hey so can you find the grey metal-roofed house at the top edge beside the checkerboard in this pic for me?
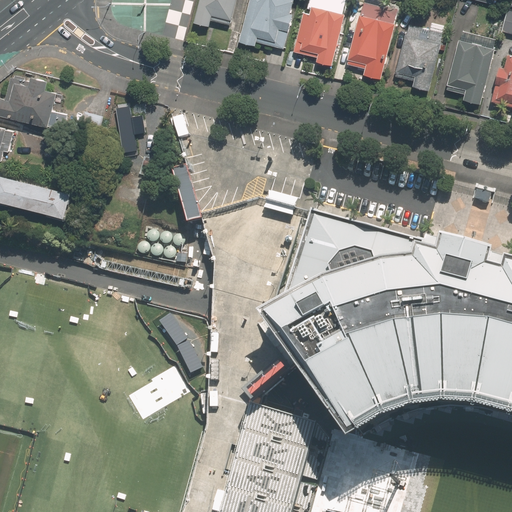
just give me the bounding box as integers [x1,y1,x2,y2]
[193,0,237,29]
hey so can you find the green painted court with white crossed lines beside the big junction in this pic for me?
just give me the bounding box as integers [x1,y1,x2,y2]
[112,0,171,34]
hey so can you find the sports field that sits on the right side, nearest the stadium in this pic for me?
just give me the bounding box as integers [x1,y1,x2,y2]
[425,458,512,512]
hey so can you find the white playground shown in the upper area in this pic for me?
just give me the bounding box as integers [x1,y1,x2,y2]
[163,0,195,43]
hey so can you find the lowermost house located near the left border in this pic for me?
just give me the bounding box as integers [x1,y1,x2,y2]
[0,173,66,218]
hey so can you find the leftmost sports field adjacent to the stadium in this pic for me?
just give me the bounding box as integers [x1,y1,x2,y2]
[0,268,210,512]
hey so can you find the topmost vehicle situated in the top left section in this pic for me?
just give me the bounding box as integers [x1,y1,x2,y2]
[9,0,24,14]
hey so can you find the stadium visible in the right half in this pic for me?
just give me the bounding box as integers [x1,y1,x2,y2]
[255,208,512,478]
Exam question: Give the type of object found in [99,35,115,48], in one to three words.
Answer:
vehicle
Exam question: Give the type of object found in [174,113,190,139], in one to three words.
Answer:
vehicle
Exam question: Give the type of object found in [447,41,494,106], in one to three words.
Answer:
house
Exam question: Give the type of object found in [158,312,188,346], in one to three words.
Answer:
shed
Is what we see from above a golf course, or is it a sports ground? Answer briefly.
sports ground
